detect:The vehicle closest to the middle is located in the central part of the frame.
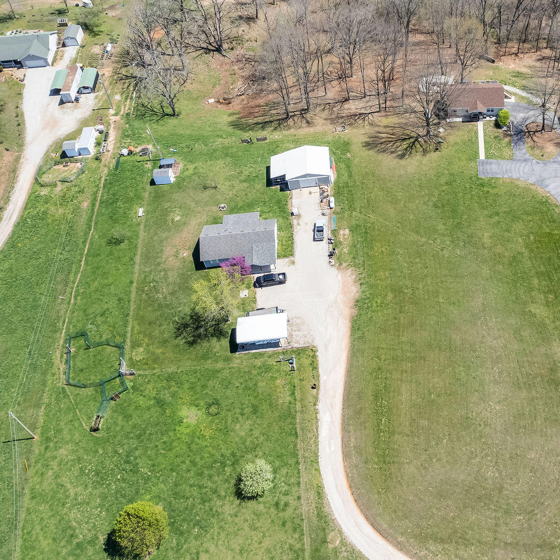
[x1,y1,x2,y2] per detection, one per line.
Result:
[255,270,285,285]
